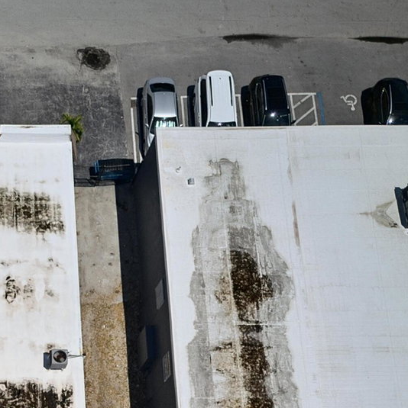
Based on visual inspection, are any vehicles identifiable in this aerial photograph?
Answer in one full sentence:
Yes, the frame does contain a vehicle.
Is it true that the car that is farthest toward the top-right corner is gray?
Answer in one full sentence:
No, from above the car that is farthest toward the top-right corner looks black.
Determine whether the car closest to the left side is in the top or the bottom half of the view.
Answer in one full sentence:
The car closest to the left side is in the top half of the image.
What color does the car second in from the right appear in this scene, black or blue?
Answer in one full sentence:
In this view, the car second in from the right is black.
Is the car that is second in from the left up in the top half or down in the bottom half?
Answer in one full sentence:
Seen from above, the car that is second in from the left lies in the top half of the view.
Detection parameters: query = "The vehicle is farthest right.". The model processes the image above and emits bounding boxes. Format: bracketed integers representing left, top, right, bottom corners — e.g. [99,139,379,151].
[363,81,408,125]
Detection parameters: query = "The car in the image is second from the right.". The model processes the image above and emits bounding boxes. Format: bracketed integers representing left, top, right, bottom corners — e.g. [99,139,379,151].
[242,79,291,125]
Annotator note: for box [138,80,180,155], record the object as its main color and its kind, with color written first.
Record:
gray car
